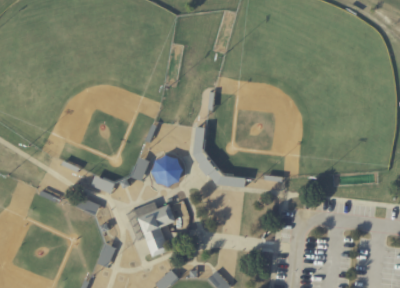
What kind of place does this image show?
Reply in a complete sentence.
The picture captures a sports ground.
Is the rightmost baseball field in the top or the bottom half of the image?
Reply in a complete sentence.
The rightmost baseball field is in the top half of the image.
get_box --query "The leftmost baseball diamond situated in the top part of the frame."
[0,0,176,180]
